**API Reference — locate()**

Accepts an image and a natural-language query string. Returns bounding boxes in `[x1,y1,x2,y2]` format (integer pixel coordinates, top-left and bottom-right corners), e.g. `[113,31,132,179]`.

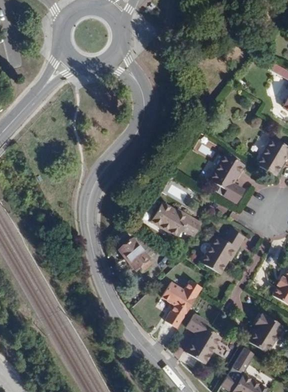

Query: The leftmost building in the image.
[118,238,150,268]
